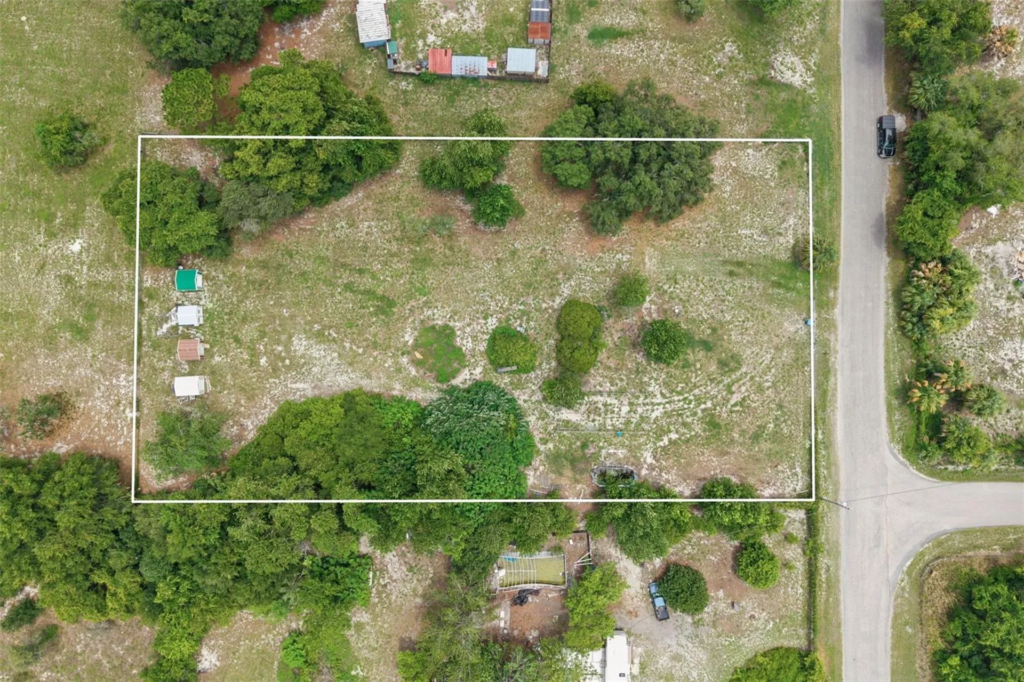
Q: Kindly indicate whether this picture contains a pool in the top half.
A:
No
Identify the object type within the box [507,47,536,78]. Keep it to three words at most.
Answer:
shed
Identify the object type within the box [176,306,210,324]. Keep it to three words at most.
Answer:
shed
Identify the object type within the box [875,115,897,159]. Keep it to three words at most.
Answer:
truck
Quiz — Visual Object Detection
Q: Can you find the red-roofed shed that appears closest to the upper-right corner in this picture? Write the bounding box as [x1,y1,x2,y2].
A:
[529,22,552,45]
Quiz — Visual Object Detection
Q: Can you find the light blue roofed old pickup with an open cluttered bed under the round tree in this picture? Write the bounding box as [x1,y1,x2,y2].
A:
[645,579,674,623]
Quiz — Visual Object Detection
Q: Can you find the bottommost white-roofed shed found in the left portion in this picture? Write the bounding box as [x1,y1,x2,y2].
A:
[174,376,211,397]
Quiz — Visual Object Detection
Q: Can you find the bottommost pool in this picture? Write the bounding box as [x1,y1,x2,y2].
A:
[497,551,567,589]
